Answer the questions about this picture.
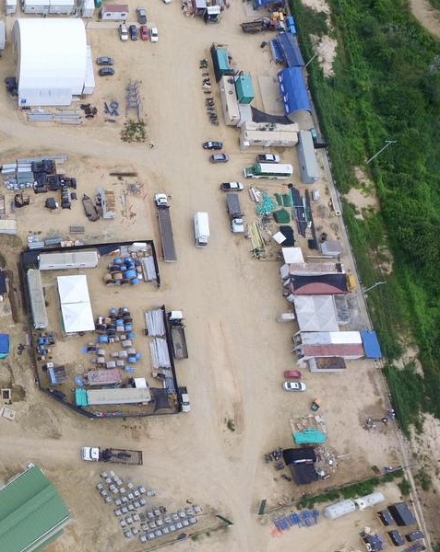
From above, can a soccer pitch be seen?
No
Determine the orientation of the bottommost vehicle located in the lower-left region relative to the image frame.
horizontally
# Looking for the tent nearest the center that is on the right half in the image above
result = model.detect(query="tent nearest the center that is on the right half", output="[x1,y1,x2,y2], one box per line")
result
[279,247,304,268]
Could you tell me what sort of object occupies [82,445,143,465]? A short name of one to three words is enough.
vehicle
